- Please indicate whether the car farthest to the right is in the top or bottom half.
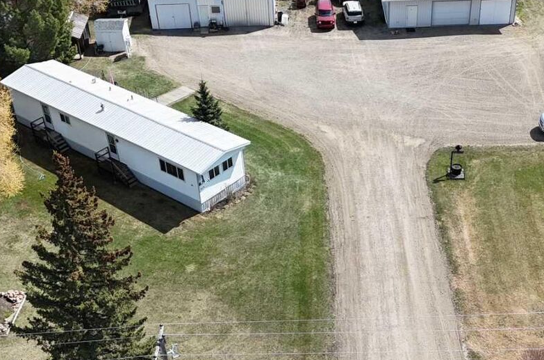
top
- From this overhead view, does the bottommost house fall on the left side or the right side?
left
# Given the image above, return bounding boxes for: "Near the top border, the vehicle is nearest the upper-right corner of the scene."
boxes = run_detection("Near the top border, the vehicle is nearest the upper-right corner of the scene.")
[340,0,363,21]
